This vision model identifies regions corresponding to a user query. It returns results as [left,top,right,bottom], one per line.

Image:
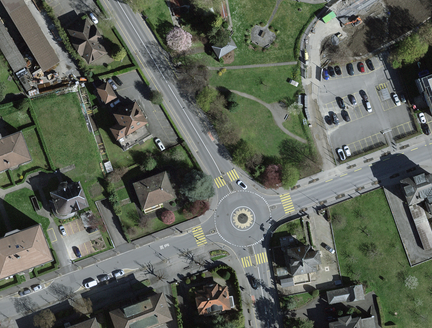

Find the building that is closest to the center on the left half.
[132,172,176,216]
